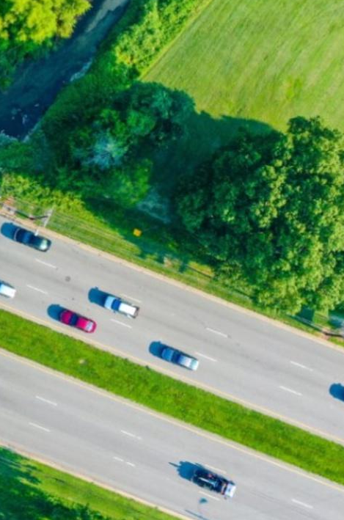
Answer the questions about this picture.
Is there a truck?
Yes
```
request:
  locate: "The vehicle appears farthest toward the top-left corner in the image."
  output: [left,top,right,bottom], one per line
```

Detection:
[10,226,50,251]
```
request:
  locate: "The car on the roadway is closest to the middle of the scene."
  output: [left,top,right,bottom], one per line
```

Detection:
[102,294,141,320]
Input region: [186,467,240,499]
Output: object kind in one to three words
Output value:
truck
